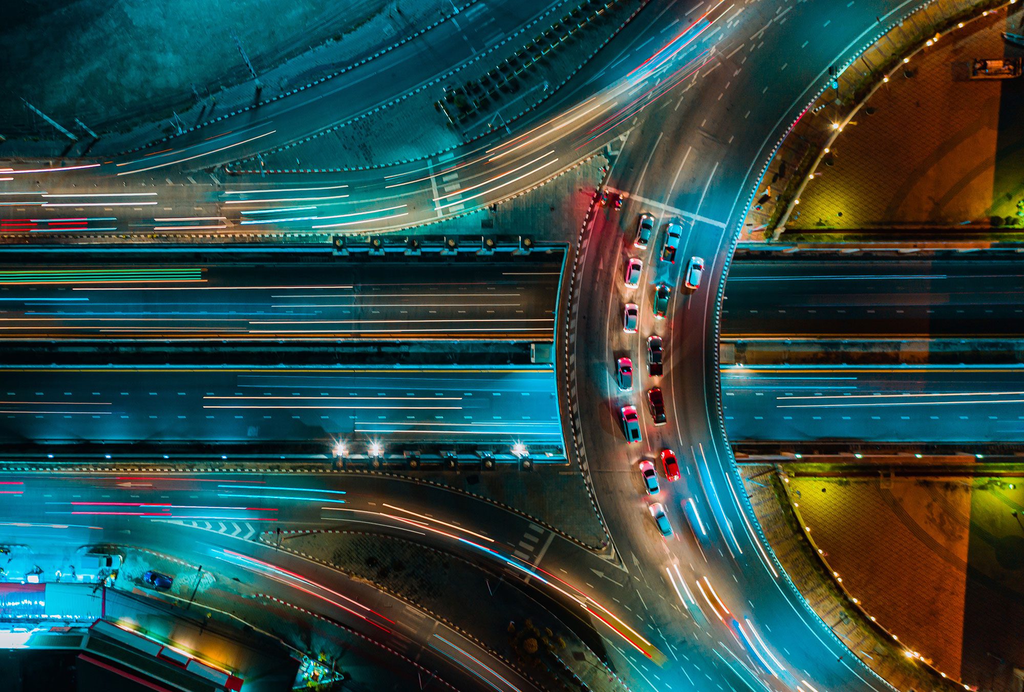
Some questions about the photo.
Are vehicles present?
Yes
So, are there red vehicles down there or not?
Yes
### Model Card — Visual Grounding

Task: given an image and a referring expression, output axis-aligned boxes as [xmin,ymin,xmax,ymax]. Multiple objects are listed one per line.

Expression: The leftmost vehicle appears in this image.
[79,553,124,571]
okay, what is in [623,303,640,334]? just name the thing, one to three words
car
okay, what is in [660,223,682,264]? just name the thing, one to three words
truck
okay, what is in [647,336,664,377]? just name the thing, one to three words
vehicle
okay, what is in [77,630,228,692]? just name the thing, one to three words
building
